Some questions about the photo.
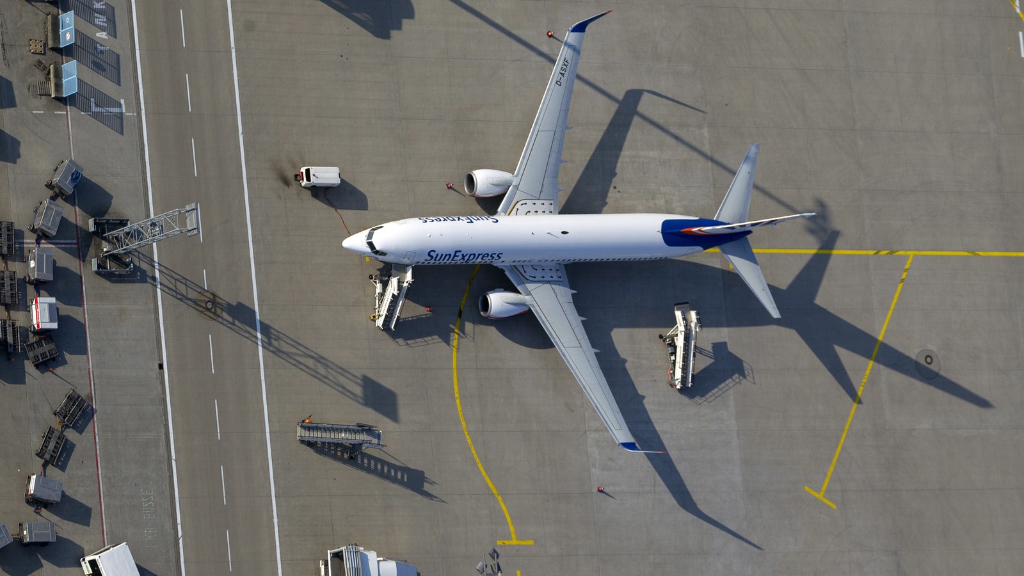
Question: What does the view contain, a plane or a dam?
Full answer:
Looking from above, you can make out a plane.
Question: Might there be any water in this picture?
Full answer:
No, water can't be seen anywhere here.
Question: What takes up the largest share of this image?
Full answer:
What you mostly see from above here is paved ground.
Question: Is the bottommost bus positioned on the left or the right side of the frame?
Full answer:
The bottommost bus is on the left side of the image.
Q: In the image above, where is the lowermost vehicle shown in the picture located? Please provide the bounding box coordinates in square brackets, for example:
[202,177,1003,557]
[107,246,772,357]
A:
[82,544,139,576]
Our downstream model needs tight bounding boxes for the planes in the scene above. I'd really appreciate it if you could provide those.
[342,11,814,454]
